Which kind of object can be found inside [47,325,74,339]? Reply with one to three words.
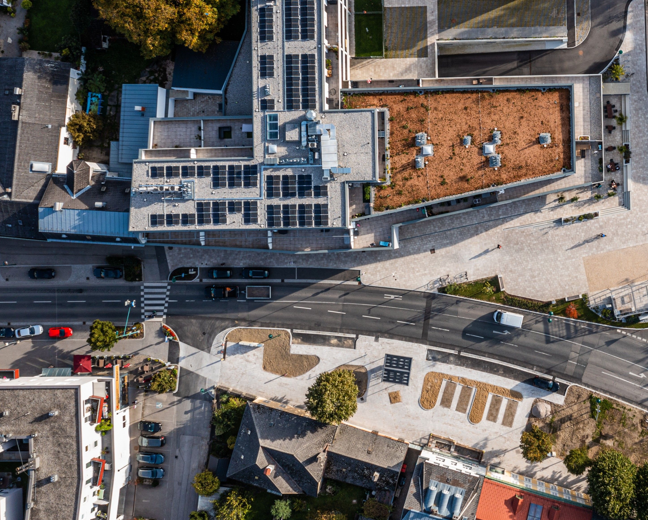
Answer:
car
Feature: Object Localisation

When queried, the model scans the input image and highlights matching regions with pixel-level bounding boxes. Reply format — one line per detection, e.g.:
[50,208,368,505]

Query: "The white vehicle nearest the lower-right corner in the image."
[491,311,522,327]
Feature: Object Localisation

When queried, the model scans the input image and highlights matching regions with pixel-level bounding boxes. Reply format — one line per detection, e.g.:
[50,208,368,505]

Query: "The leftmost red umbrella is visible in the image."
[73,355,92,372]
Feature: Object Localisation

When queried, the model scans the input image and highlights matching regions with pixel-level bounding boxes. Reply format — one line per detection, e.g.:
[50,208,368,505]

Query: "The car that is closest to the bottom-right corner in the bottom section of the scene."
[533,375,560,394]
